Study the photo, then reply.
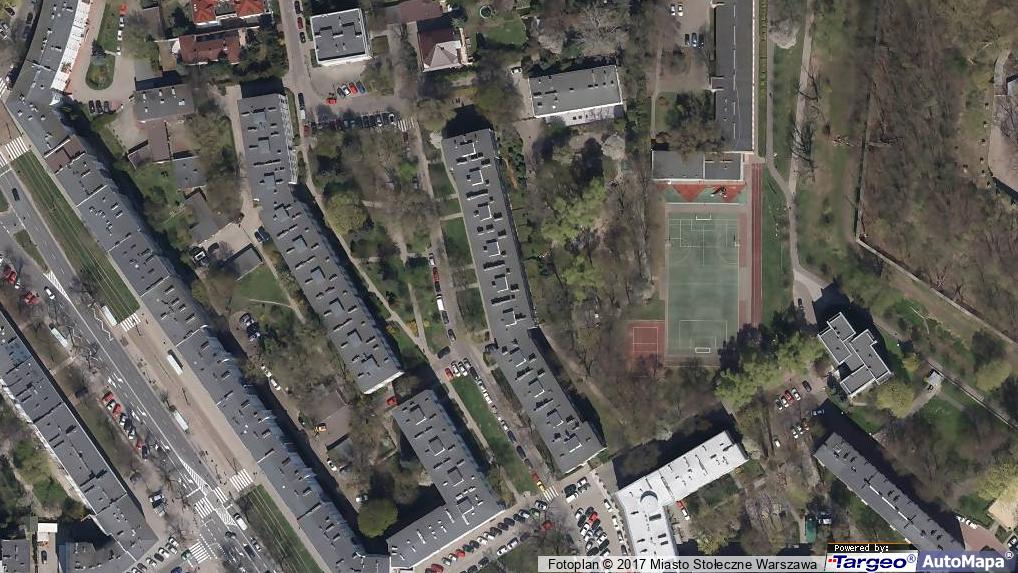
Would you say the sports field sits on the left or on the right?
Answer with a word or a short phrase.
right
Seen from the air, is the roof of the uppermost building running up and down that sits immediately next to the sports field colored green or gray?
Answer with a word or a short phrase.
gray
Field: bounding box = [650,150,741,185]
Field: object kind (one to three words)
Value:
building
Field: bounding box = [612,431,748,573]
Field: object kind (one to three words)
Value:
building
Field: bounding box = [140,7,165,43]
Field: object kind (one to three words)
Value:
shed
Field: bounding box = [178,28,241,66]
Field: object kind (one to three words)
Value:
house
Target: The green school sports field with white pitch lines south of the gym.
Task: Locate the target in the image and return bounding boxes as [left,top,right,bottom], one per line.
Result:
[663,203,745,367]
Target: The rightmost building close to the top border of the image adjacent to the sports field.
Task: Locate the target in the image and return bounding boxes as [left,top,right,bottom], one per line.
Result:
[708,0,754,158]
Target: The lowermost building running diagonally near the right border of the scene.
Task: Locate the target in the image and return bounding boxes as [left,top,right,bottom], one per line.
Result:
[809,432,989,573]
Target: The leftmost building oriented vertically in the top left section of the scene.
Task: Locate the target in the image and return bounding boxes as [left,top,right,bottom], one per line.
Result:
[4,0,90,156]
